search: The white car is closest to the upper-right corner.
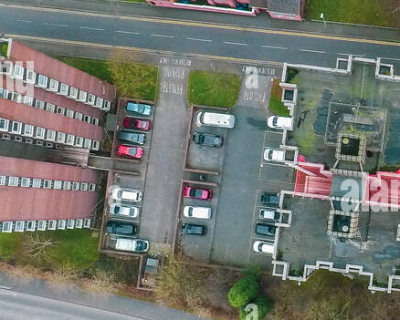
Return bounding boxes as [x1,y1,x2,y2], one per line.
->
[266,112,290,129]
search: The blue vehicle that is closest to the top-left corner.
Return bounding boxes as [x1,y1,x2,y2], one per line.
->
[124,101,152,115]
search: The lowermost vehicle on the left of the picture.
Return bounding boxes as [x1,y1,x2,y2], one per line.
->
[111,237,148,253]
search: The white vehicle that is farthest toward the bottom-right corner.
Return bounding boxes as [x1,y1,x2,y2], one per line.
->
[250,239,274,254]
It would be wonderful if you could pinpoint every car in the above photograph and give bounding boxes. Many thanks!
[116,131,145,145]
[191,130,221,146]
[254,205,278,221]
[266,112,290,129]
[255,190,279,205]
[182,186,212,201]
[124,101,152,115]
[182,204,211,219]
[104,220,136,235]
[115,144,143,158]
[121,116,150,130]
[250,239,274,254]
[110,187,141,202]
[262,145,283,161]
[108,202,138,218]
[253,223,276,237]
